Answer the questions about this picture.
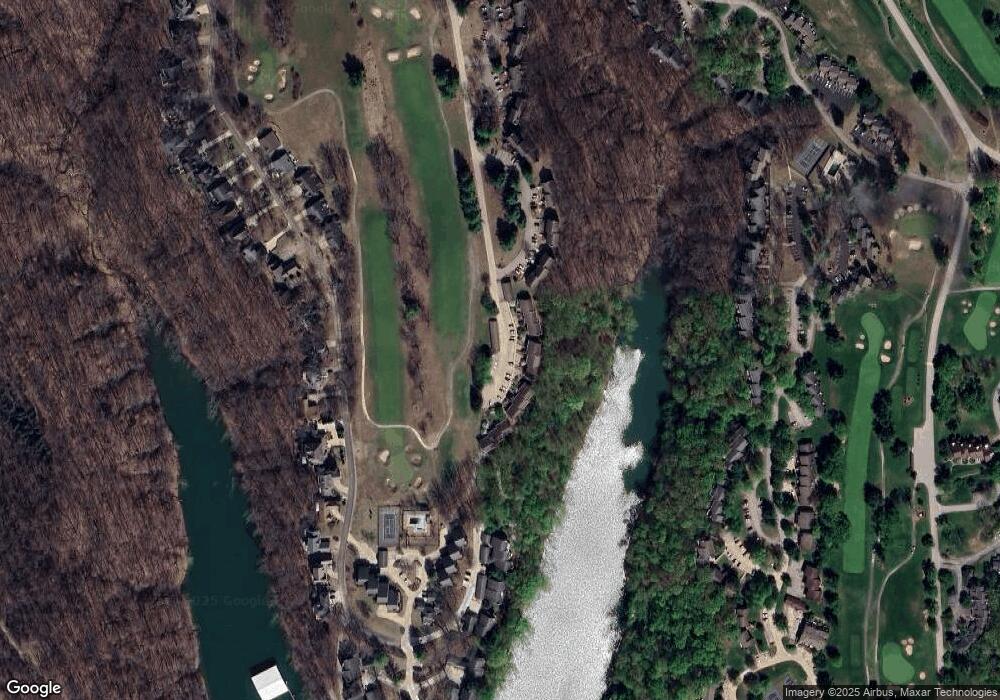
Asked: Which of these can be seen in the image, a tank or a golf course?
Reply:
golf course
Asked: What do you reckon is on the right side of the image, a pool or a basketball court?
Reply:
pool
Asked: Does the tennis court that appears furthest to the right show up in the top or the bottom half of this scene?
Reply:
top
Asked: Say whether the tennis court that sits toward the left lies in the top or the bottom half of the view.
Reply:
bottom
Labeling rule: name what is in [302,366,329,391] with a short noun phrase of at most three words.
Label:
house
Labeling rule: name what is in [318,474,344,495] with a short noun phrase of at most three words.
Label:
house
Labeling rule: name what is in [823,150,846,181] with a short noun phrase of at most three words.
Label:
swimming pool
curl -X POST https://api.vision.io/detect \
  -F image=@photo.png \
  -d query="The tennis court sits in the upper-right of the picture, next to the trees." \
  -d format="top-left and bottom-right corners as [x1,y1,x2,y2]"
[793,136,829,176]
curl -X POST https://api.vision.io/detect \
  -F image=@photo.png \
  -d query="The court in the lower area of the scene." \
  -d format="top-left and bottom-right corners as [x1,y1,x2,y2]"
[379,506,399,547]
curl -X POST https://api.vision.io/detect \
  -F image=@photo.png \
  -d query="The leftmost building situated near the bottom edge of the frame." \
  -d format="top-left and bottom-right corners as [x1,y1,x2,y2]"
[252,665,291,700]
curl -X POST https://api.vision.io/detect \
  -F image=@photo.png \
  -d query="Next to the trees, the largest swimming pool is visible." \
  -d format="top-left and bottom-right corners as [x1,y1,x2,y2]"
[402,507,440,547]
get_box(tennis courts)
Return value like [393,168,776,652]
[793,136,829,176]
[379,506,399,547]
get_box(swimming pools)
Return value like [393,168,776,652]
[402,507,440,547]
[823,150,846,181]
